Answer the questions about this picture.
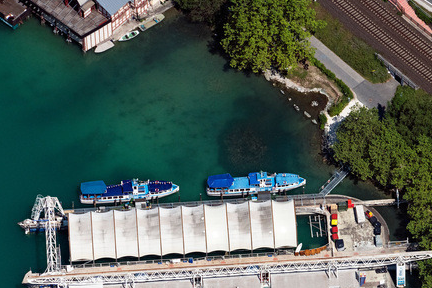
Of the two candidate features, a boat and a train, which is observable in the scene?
boat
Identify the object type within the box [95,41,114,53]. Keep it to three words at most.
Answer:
boat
